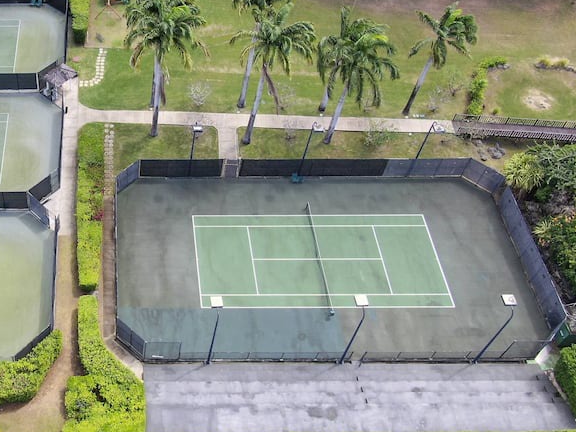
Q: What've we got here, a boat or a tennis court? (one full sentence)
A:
There is a tennis court in the scene.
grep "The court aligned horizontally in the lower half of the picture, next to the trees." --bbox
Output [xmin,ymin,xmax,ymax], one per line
[117,176,562,363]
